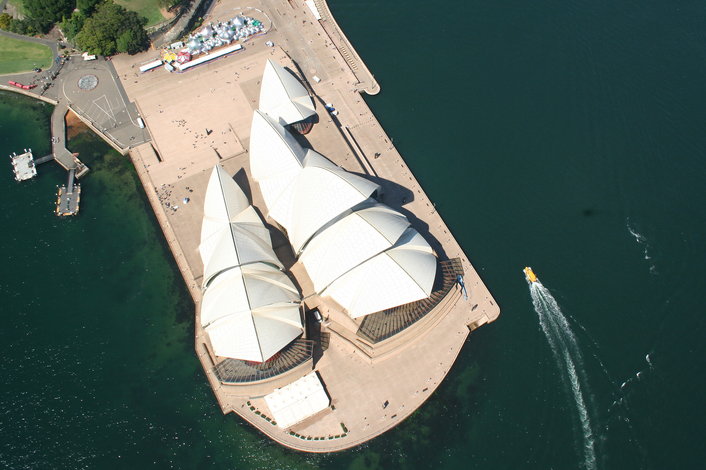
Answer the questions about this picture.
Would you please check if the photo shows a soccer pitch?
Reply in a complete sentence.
No, there isn't any soccer pitch down there.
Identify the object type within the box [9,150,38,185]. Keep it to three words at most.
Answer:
pier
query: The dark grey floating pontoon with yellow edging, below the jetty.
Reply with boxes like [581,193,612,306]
[53,183,81,215]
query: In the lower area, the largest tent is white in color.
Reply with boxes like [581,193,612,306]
[265,371,336,435]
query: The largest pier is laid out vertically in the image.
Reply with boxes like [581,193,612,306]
[52,103,79,169]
